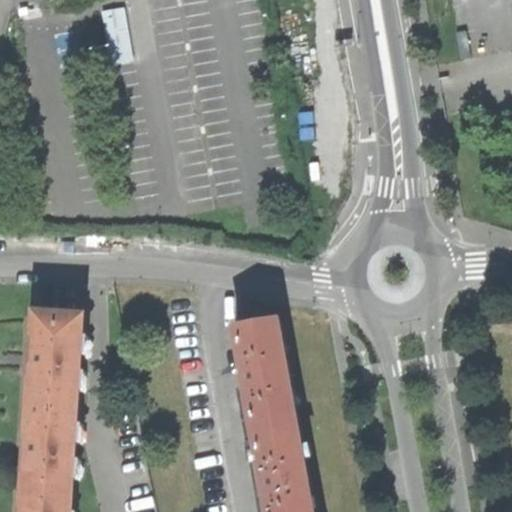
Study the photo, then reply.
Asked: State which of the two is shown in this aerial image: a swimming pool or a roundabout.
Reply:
roundabout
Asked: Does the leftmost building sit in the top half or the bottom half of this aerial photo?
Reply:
bottom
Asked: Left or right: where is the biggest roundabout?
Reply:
right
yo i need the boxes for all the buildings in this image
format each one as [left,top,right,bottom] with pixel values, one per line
[101,7,134,64]
[456,30,470,60]
[14,306,94,512]
[228,316,315,512]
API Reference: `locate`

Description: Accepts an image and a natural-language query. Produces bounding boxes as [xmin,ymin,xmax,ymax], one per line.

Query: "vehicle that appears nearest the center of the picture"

[224,292,236,325]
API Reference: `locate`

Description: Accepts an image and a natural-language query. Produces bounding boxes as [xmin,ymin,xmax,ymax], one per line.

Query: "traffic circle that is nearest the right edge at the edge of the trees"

[338,216,455,328]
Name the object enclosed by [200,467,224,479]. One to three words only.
vehicle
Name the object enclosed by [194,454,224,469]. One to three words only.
vehicle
